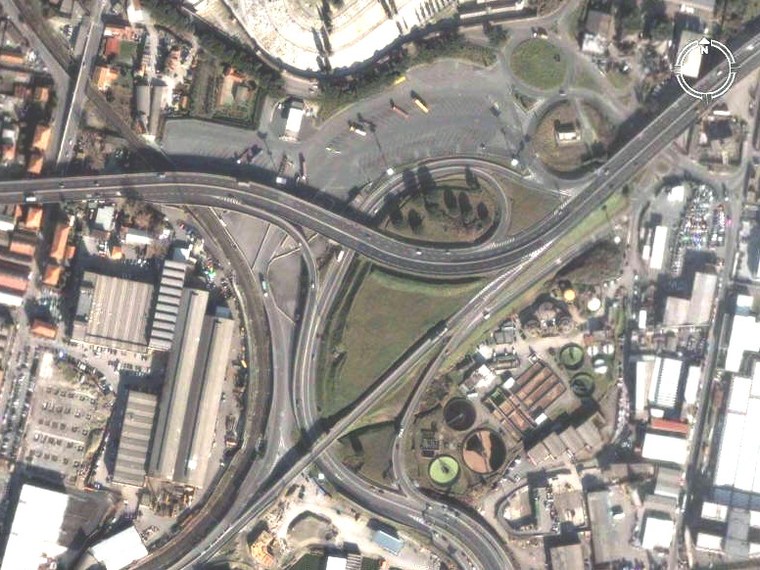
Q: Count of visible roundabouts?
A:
two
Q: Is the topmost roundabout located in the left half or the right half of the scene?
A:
right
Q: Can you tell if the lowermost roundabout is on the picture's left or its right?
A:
right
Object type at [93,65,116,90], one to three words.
house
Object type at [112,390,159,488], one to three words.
building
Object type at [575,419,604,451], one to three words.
shed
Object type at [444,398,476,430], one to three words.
storage tank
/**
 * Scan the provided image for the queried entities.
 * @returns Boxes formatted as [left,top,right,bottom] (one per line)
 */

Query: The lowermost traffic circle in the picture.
[526,89,618,178]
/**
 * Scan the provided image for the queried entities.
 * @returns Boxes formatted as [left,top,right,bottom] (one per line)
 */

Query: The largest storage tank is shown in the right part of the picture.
[462,429,507,473]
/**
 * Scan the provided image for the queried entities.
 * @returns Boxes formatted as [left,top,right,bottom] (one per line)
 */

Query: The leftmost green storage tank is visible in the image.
[430,454,459,484]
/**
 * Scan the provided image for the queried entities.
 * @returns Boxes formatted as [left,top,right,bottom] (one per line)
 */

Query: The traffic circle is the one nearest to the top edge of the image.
[501,25,577,101]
